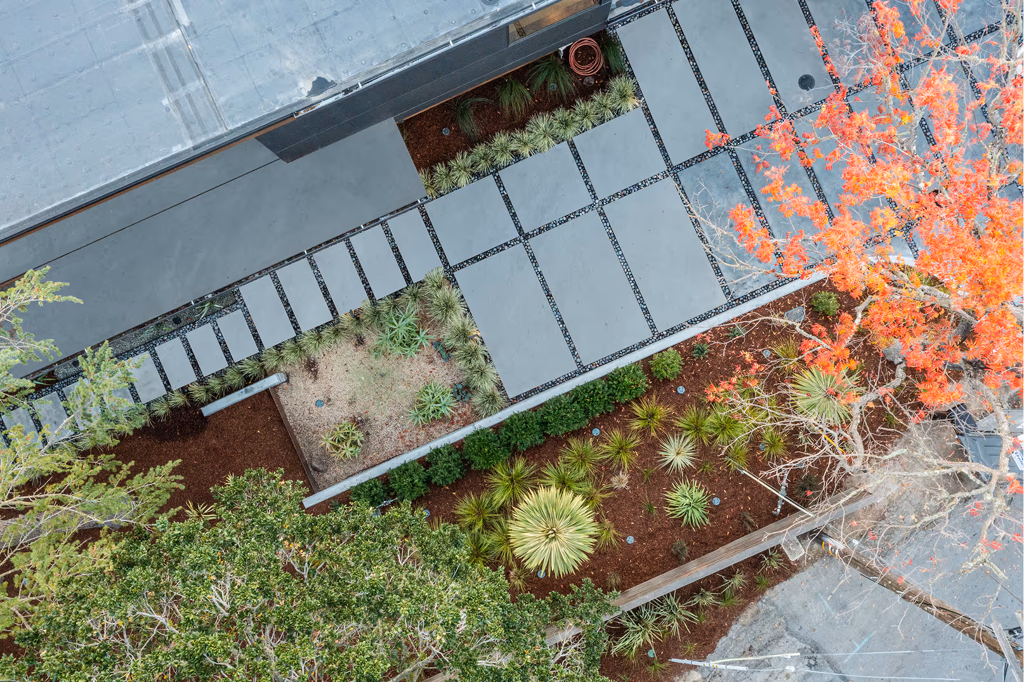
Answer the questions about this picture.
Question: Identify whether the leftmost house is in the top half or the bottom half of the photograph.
top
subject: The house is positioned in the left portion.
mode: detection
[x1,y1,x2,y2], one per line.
[0,0,615,248]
